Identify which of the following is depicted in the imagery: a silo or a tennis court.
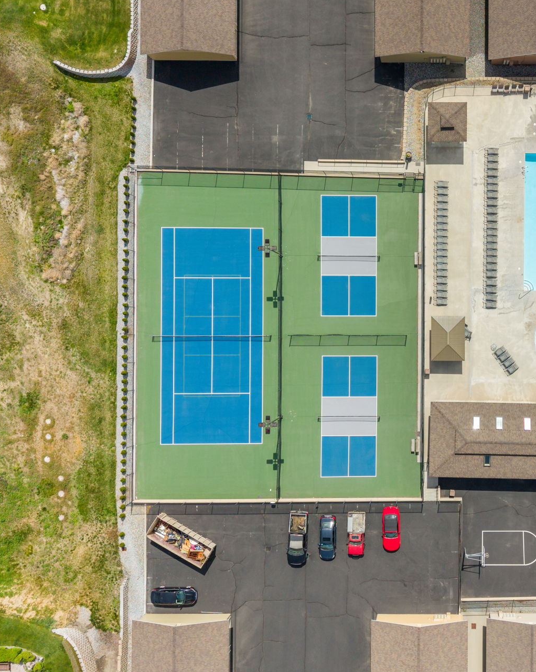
tennis court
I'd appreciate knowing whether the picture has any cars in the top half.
No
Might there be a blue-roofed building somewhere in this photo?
No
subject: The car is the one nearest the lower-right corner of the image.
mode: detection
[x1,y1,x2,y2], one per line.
[382,505,402,550]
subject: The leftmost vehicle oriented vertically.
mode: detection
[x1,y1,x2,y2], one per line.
[286,507,309,565]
